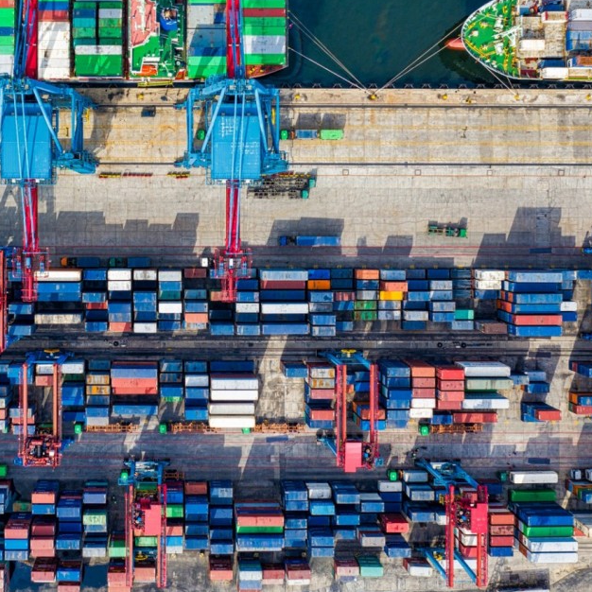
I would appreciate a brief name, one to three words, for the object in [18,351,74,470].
container crane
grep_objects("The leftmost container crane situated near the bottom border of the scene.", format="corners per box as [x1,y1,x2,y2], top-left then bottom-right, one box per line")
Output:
[121,461,170,587]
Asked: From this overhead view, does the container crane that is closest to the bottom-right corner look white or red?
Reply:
red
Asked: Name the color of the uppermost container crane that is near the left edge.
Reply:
blue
